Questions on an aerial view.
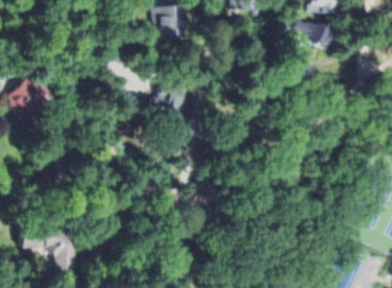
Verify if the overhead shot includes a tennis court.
Yes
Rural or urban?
rural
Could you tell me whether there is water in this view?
No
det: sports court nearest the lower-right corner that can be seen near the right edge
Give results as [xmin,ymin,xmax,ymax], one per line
[352,256,387,288]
